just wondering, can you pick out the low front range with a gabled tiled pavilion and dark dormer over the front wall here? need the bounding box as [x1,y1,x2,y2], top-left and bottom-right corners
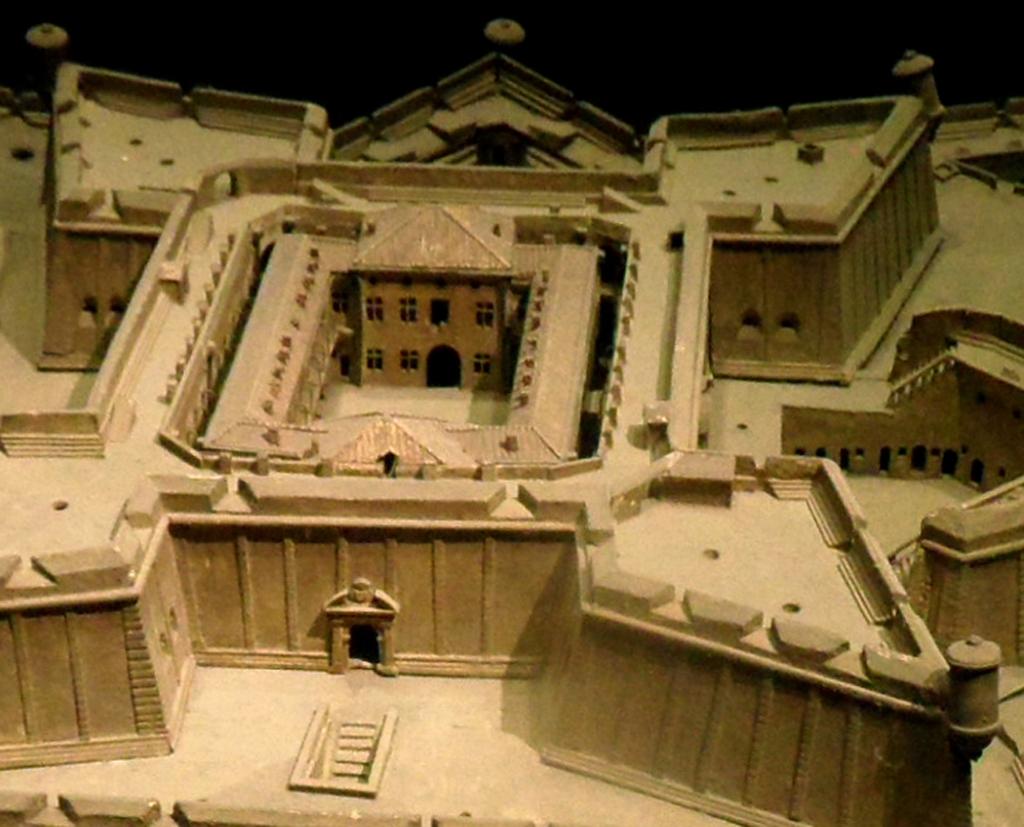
[203,414,564,468]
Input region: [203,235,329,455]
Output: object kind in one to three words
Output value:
building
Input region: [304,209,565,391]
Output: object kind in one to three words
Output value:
building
